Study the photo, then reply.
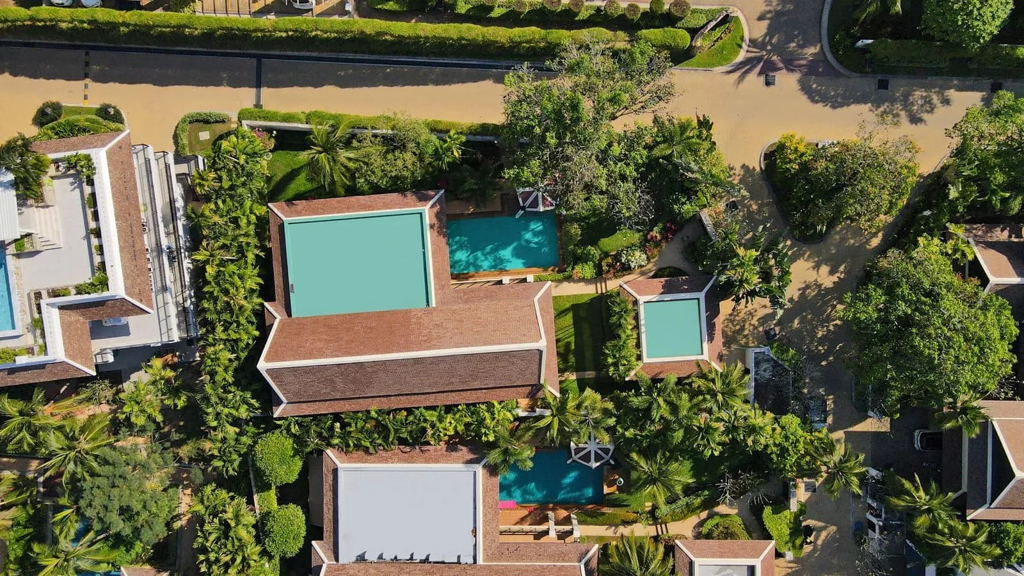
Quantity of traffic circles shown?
zero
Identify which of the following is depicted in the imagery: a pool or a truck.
pool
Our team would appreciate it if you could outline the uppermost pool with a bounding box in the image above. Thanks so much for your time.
[446,209,562,277]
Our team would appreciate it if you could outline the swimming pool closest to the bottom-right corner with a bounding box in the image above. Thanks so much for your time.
[497,445,605,505]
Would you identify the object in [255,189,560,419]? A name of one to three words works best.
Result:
house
